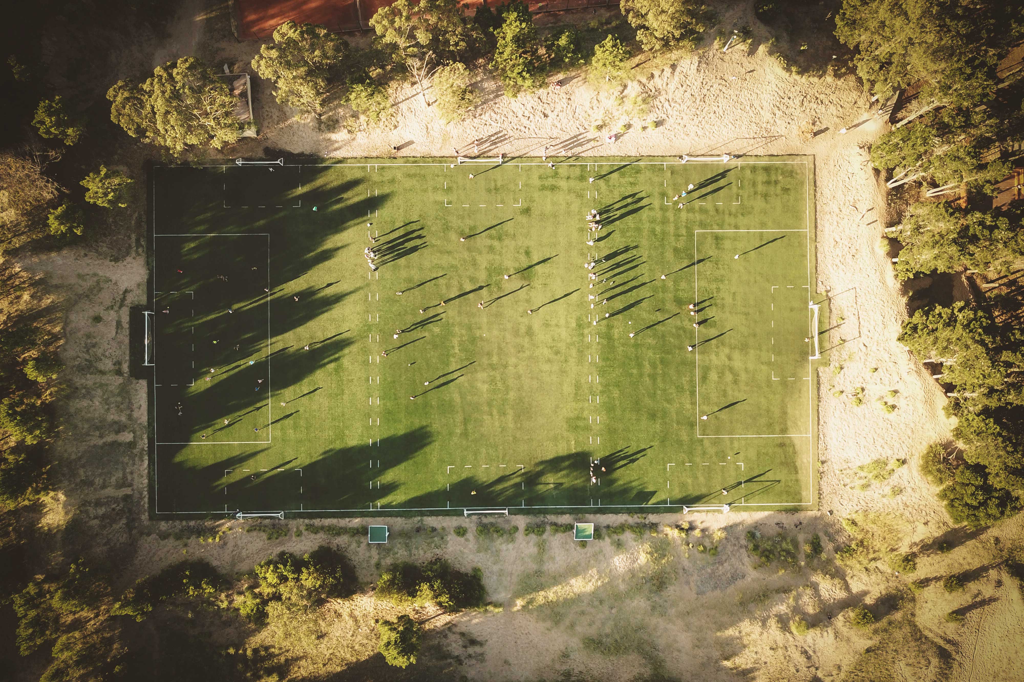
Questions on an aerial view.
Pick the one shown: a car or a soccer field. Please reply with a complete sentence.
There is a soccer field in the scene.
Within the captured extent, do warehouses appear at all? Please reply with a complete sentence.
No, there is no warehouse in the image.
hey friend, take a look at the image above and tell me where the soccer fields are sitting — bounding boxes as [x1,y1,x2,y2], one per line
[128,155,835,520]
